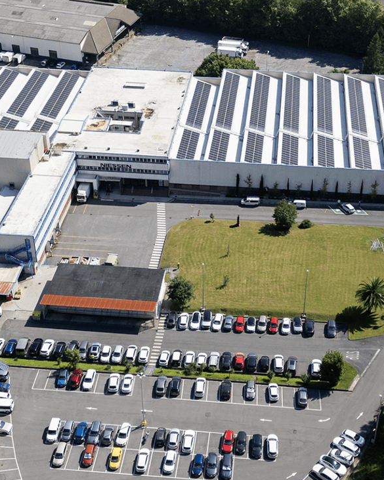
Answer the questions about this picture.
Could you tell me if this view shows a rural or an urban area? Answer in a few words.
urban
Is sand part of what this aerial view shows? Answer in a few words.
No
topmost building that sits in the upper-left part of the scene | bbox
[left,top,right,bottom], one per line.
[0,0,143,67]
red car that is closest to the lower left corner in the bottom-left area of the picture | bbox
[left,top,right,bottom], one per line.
[82,445,97,466]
